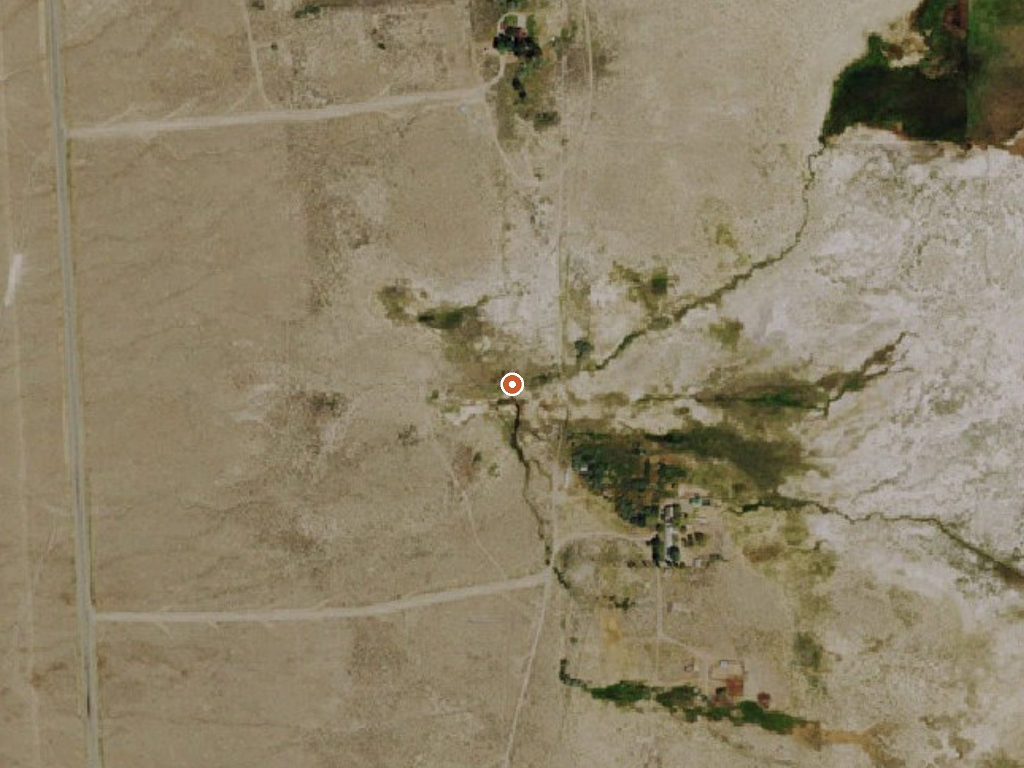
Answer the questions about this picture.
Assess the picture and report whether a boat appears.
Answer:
No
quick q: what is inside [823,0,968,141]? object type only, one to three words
pond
